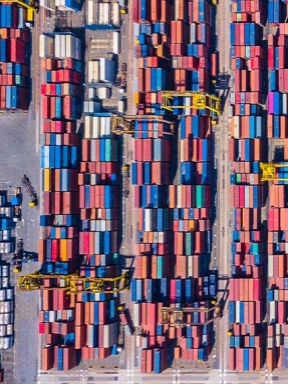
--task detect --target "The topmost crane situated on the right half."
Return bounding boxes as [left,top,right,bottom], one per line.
[161,90,223,115]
